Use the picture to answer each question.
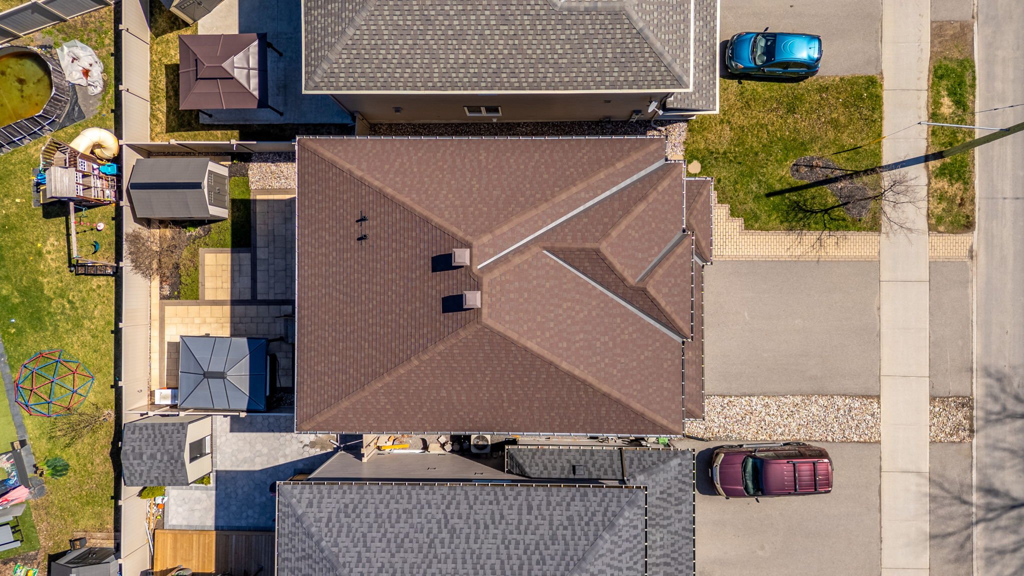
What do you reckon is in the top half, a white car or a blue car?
blue car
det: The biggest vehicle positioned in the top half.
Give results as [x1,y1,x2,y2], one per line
[725,27,825,83]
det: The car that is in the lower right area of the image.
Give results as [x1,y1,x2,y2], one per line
[711,442,833,503]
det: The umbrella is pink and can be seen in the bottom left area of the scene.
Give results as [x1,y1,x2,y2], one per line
[0,485,28,505]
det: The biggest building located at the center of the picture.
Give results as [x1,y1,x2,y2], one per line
[296,135,713,444]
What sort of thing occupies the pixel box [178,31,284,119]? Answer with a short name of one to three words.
gazebo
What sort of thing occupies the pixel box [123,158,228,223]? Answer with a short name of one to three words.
shed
